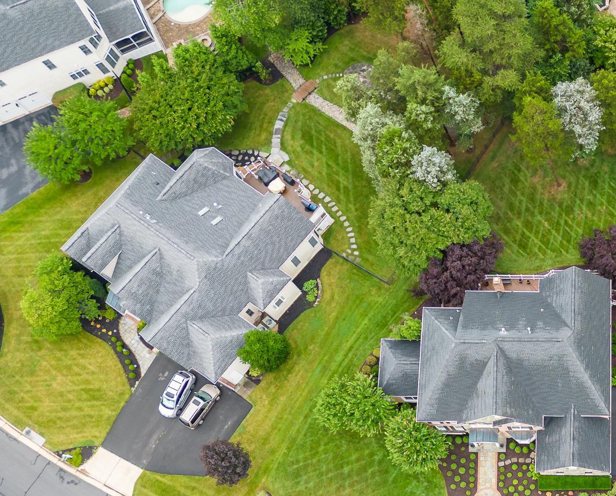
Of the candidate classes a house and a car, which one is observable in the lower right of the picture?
house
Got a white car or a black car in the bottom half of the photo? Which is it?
white car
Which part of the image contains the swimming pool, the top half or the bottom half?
top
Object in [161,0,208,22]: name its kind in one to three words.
swimming pool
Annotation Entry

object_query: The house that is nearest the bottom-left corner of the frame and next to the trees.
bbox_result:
[60,145,340,393]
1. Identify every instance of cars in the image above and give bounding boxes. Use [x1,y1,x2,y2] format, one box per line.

[162,371,196,418]
[181,387,219,431]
